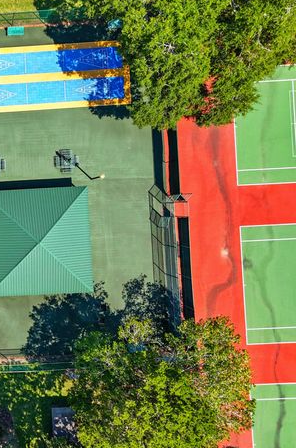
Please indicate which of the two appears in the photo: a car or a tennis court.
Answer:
tennis court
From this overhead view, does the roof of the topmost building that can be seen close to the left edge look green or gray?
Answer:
green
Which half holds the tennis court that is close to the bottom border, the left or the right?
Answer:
right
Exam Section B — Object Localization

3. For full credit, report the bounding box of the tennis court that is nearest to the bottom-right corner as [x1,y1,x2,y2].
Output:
[250,382,296,448]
